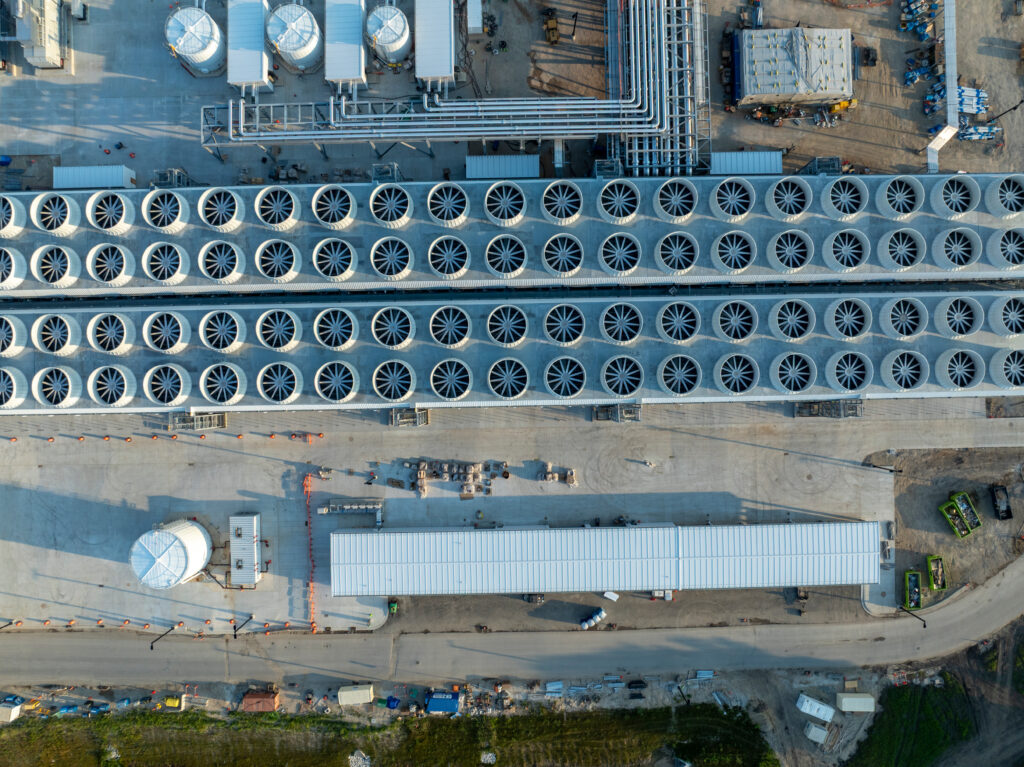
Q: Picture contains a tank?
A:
Yes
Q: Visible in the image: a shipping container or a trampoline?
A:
shipping container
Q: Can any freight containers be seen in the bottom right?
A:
Yes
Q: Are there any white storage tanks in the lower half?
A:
Yes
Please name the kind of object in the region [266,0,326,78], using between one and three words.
storage tank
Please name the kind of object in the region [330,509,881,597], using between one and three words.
building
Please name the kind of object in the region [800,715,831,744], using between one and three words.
shipping container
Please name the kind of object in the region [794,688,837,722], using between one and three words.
shipping container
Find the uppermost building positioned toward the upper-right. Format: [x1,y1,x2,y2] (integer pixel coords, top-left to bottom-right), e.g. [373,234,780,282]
[730,27,852,111]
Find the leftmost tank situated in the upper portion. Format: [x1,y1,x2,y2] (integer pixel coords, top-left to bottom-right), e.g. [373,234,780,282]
[163,1,228,80]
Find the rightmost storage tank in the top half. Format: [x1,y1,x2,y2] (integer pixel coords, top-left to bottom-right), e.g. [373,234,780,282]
[364,1,415,67]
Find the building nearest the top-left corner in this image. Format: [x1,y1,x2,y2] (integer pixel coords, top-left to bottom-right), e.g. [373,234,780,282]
[11,0,66,68]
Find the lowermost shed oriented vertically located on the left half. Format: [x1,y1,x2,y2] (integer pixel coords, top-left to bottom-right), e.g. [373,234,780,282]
[230,513,261,585]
